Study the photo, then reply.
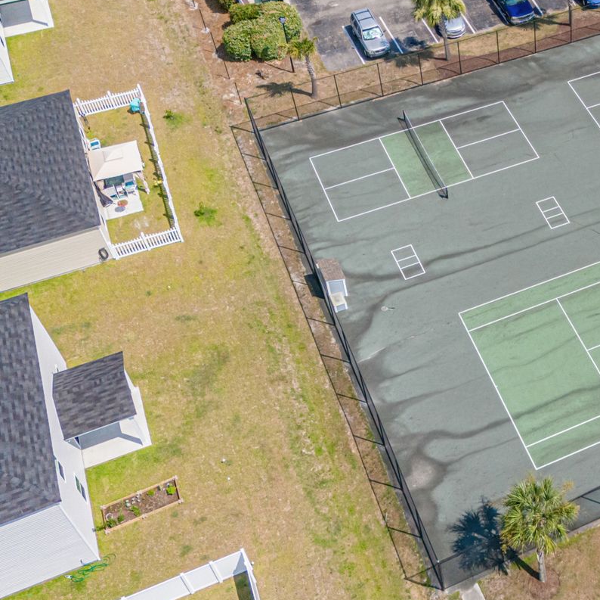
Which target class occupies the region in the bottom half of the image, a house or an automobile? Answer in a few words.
house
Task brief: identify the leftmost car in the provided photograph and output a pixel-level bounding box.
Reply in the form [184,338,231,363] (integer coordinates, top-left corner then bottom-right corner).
[348,7,391,59]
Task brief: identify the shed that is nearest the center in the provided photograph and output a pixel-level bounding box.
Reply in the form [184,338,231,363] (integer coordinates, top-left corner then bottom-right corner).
[318,257,350,304]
